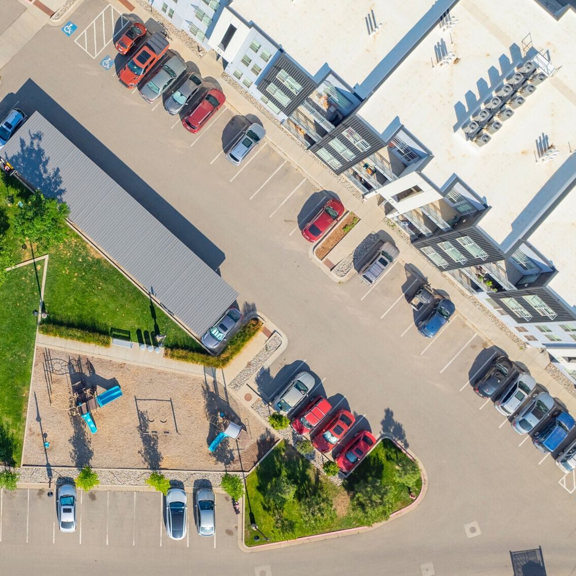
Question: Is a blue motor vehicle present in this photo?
Yes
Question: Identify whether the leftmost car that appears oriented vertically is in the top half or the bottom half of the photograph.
bottom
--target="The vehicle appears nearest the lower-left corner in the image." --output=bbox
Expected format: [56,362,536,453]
[56,483,78,532]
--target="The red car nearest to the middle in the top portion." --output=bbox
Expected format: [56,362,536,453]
[299,198,345,245]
